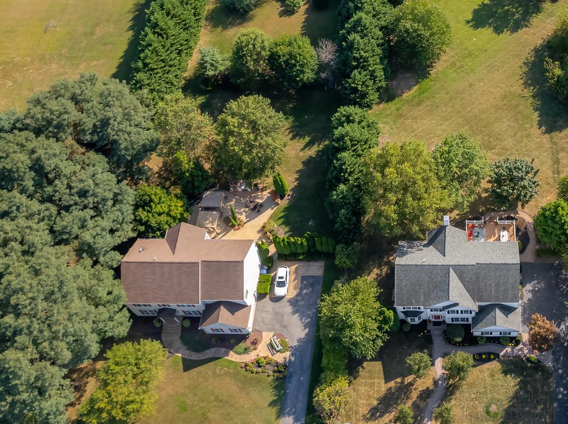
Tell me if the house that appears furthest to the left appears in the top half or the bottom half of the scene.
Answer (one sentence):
The house that appears furthest to the left is in the bottom half of the image.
